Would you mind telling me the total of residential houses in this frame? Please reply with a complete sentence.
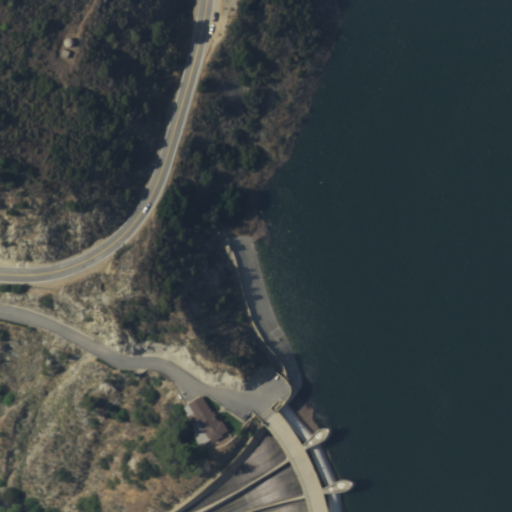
The count comes to 1 residential house.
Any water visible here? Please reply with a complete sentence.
Yes, some water is visible.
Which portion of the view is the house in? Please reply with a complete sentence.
Look in the bottom portion of the view to spot the house.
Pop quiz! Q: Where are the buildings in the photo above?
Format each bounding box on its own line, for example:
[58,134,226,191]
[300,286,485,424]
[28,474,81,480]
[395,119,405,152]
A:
[186,396,230,442]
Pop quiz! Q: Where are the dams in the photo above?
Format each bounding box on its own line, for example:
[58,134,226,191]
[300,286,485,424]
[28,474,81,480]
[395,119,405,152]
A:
[172,397,350,512]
